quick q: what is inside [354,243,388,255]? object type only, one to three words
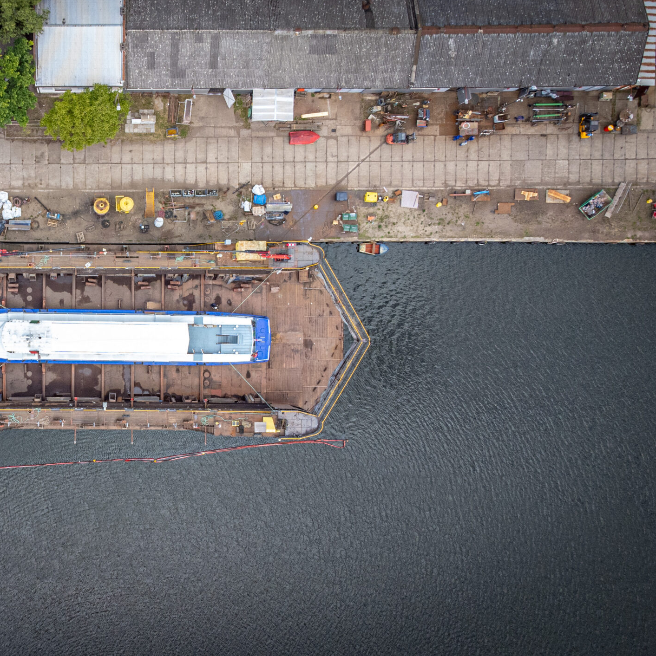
boat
